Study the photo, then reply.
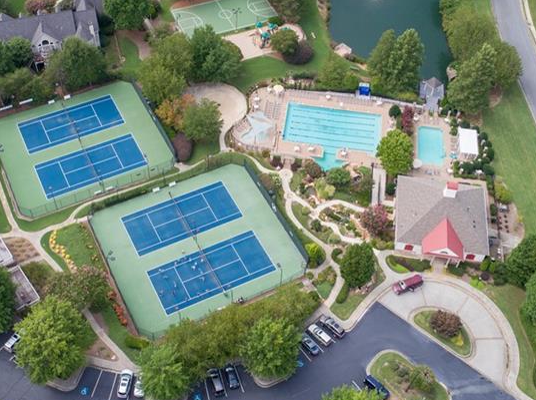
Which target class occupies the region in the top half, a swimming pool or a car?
swimming pool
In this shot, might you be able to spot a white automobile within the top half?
No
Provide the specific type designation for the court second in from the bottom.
tennis court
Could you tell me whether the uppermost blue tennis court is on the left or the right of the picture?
left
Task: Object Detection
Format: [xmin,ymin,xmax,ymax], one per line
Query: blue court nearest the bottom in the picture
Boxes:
[147,230,276,315]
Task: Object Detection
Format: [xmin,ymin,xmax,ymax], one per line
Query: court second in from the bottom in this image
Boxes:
[121,180,244,256]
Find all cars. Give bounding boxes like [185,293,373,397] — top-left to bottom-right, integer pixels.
[320,312,346,337]
[364,372,392,397]
[208,365,226,397]
[225,363,241,390]
[134,369,146,396]
[299,331,322,355]
[395,274,422,292]
[116,369,131,396]
[0,327,20,353]
[307,322,332,345]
